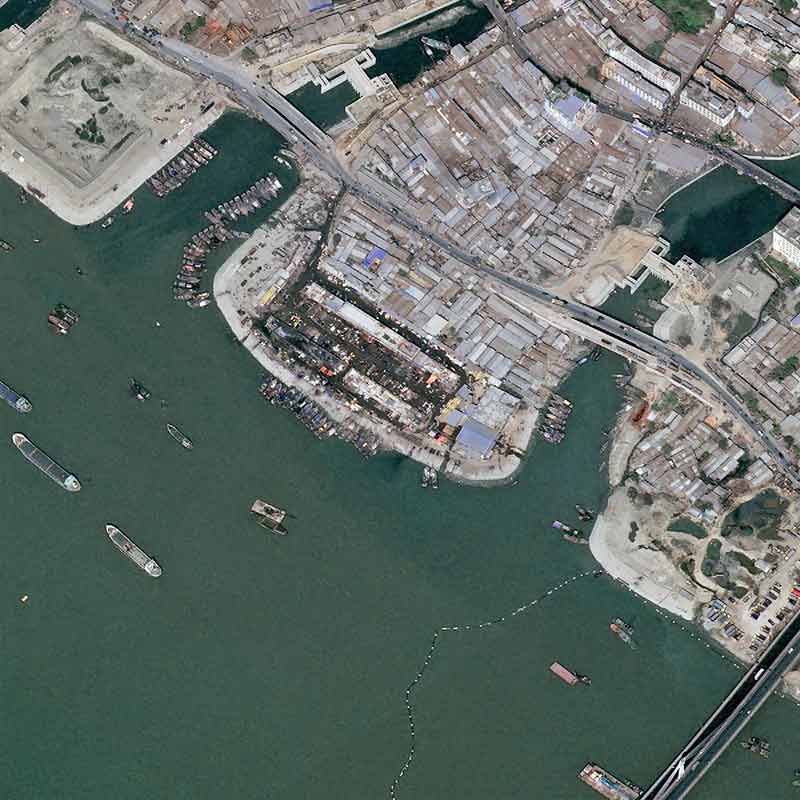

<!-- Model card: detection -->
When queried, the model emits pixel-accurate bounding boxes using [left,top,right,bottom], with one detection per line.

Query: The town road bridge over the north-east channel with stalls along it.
[720,148,800,205]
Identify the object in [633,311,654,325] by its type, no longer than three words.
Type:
boat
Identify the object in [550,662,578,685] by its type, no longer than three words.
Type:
ship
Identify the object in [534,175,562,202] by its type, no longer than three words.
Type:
shed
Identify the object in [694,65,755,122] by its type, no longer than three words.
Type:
building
